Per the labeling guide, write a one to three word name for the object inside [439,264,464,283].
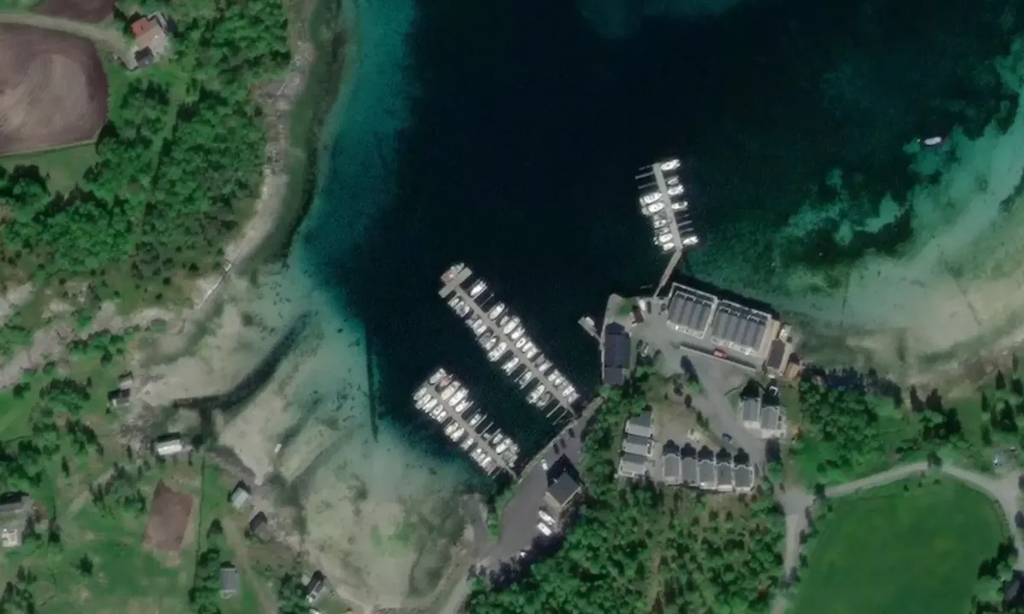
boat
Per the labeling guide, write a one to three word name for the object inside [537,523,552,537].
vehicle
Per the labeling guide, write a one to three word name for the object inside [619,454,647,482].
house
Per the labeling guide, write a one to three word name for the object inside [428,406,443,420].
boat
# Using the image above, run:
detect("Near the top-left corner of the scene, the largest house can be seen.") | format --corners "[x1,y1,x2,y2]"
[130,17,160,48]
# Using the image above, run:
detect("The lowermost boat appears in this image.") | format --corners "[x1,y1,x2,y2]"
[539,511,557,527]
